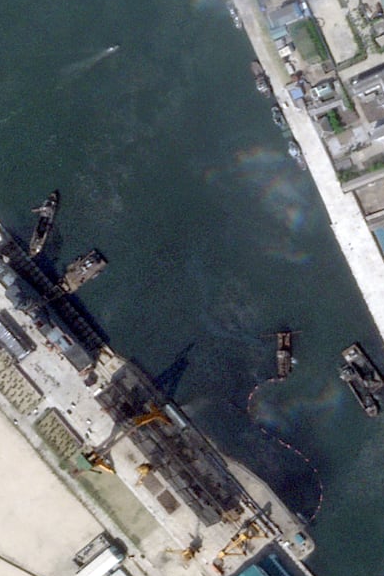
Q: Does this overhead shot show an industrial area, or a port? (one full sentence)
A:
It's a port.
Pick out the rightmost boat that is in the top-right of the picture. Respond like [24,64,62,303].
[288,141,305,170]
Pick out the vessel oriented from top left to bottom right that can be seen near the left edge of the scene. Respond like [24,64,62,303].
[0,260,101,378]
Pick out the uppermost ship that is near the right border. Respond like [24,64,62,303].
[342,343,383,392]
